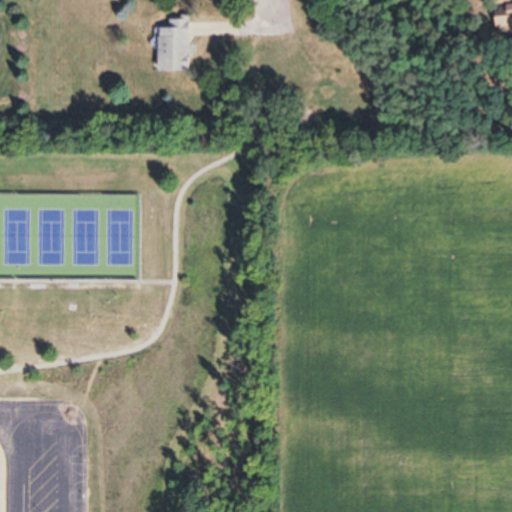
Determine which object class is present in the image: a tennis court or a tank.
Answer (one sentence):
This aerial view contains a tennis court.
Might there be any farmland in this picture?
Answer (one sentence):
Yes, there is farmland in the image.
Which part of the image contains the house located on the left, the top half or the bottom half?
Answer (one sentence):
The house located on the left sits in the top half of the picture.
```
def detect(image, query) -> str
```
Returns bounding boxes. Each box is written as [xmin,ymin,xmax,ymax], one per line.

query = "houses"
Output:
[496,2,512,30]
[155,13,190,70]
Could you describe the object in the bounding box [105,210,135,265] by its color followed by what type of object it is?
blue tennis court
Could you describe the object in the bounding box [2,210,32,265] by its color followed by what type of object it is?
blue tennis court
